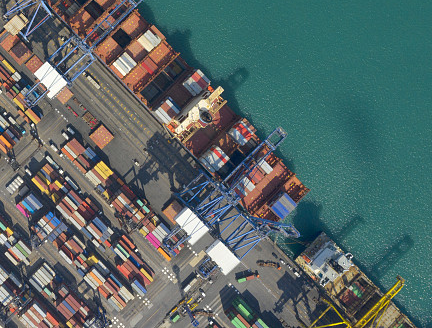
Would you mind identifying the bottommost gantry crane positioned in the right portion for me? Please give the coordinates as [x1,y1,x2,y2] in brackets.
[293,276,410,328]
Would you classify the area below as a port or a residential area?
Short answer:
port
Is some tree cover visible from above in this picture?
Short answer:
No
